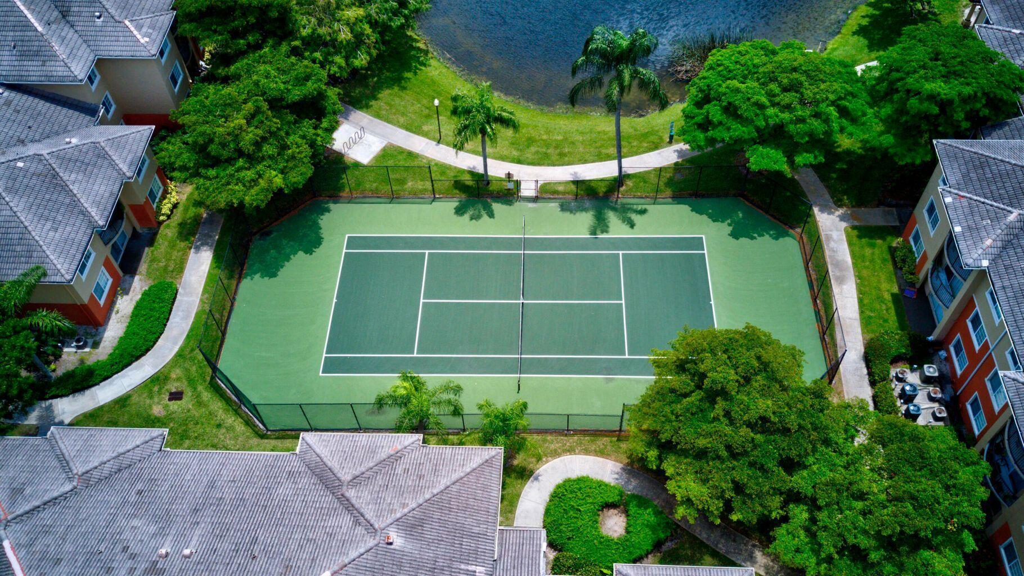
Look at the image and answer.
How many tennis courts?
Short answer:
1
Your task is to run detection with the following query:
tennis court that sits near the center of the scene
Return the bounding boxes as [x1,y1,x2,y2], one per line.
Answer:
[220,198,828,431]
